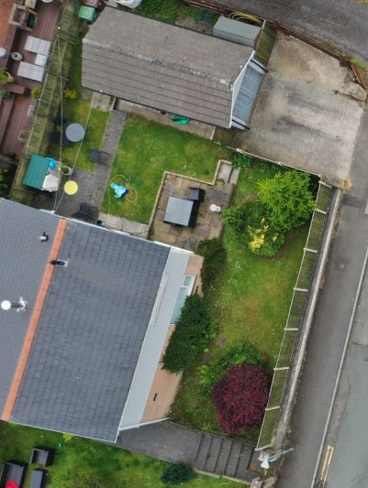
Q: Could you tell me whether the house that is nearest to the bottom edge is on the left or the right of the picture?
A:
left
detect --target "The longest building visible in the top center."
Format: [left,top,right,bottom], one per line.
[80,6,269,136]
